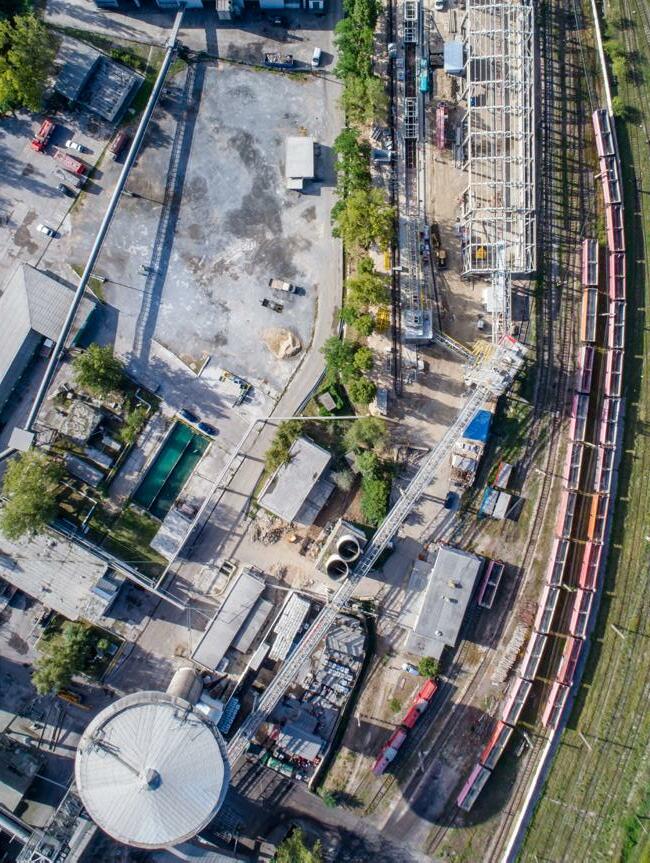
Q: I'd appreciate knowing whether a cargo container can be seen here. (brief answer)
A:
Yes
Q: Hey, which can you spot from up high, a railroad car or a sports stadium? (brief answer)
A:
railroad car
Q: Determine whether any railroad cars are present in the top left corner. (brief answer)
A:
No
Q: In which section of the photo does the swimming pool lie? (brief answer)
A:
left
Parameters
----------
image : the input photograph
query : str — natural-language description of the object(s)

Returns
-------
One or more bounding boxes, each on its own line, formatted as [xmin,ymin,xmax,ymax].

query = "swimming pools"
[130,419,212,519]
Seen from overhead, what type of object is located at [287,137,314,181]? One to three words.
building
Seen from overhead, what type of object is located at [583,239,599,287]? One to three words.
rail car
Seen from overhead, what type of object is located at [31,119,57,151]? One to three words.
truck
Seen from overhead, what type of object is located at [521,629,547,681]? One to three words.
rail car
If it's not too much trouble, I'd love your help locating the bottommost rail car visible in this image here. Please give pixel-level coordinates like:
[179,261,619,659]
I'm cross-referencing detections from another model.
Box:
[458,761,492,812]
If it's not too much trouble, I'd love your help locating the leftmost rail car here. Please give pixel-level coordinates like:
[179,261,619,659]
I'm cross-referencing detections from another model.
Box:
[372,722,407,775]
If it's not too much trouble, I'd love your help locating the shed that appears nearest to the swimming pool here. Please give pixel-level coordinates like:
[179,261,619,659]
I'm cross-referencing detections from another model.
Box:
[149,504,198,560]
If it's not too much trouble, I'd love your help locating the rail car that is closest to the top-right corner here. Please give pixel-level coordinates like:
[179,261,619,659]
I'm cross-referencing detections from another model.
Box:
[593,109,615,158]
